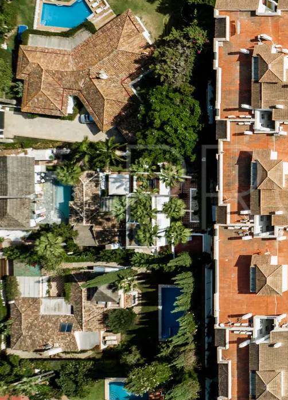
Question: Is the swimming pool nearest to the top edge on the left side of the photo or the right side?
left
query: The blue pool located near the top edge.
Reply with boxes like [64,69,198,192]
[41,0,92,27]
